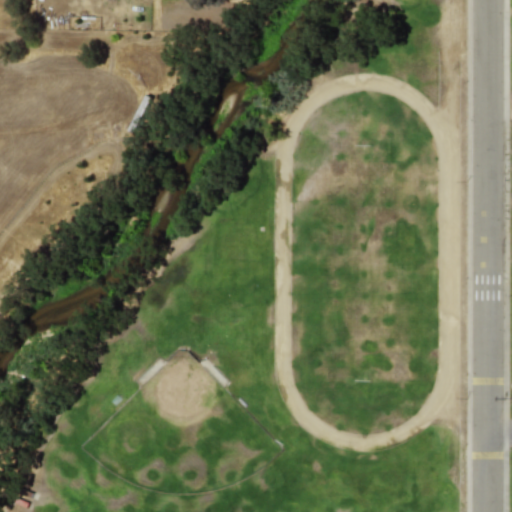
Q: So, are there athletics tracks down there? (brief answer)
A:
Yes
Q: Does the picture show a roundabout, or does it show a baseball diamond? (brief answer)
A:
baseball diamond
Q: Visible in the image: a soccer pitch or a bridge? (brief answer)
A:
soccer pitch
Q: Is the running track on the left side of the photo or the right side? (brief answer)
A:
right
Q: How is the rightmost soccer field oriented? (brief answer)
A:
from top to bottom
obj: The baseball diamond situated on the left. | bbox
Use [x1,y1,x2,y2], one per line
[83,350,283,494]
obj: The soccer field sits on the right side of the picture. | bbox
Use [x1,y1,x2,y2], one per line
[292,91,438,436]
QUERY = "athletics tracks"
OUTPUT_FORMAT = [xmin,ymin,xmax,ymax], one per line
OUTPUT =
[275,74,460,452]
